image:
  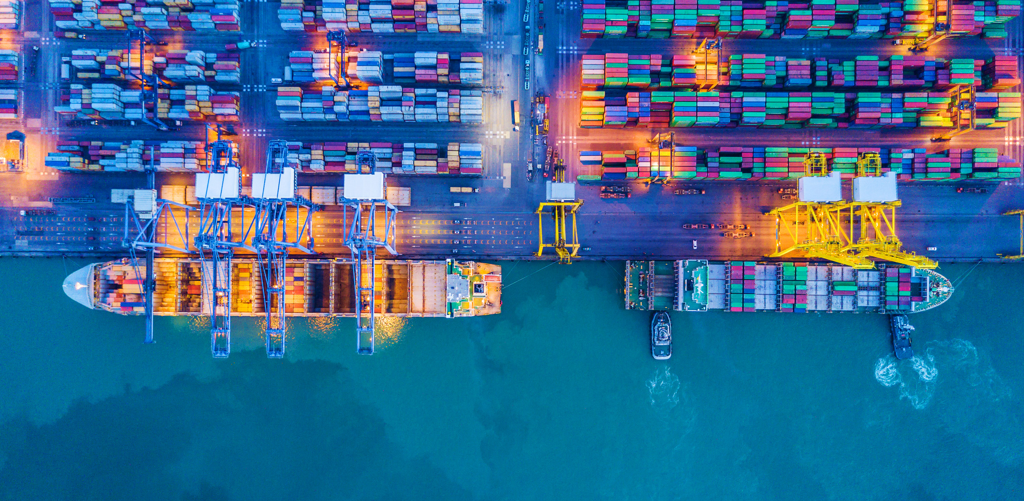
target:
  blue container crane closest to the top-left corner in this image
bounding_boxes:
[127,27,164,85]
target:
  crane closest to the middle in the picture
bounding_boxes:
[528,160,583,268]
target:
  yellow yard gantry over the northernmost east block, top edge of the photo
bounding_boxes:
[910,0,951,52]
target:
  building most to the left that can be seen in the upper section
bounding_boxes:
[0,139,32,168]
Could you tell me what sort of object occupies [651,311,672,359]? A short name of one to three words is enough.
boat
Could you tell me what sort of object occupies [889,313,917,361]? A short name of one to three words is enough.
boat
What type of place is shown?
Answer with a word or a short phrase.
port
